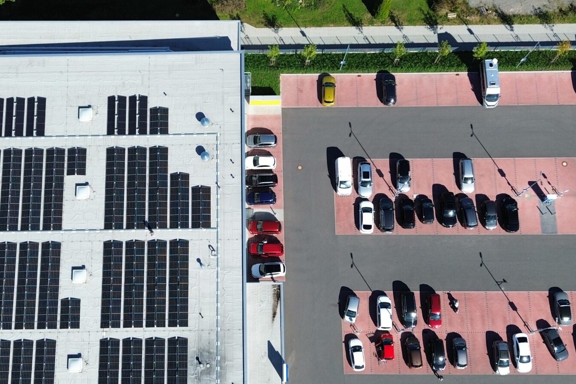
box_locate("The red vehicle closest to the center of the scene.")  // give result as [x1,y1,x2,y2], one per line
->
[247,218,283,236]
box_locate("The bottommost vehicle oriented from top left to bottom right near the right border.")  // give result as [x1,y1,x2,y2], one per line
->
[539,326,568,362]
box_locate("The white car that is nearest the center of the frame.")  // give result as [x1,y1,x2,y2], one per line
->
[244,154,278,171]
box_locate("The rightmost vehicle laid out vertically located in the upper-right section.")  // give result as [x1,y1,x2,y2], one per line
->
[479,58,503,109]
